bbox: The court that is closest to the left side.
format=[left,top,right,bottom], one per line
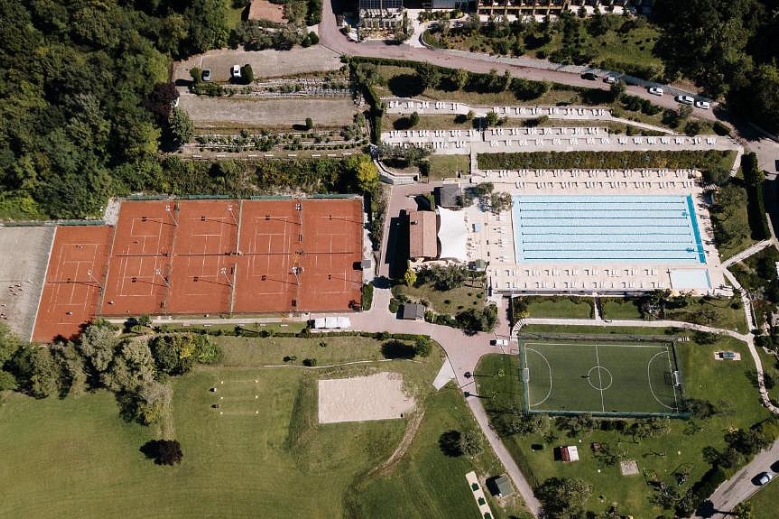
[0,226,56,344]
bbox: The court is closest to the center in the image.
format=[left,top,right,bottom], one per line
[297,199,363,312]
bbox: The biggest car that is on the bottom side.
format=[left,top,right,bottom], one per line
[756,470,776,487]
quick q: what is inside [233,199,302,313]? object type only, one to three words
tennis court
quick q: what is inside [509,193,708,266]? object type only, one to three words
swimming pool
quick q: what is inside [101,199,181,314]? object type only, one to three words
tennis court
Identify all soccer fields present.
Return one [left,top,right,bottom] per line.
[524,342,679,412]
